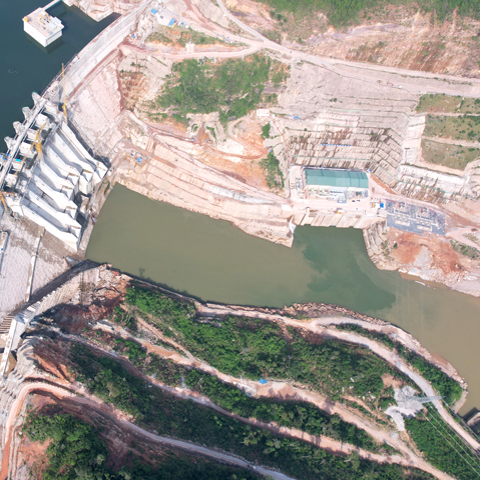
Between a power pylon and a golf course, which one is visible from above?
power pylon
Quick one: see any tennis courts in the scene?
No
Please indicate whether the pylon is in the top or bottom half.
bottom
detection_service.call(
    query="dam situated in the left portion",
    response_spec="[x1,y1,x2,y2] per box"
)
[0,0,157,376]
